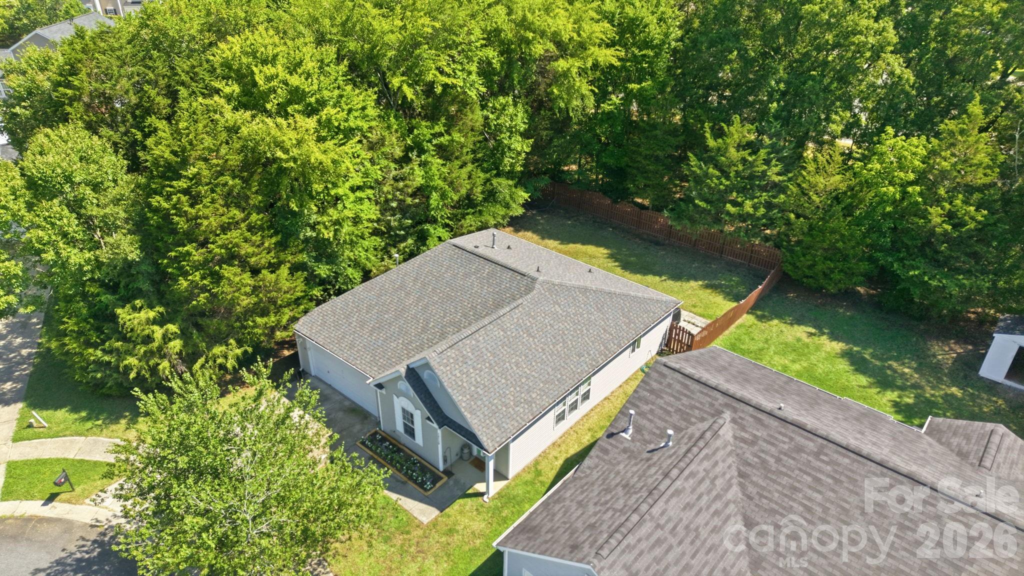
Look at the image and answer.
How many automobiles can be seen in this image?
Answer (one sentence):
Not a single automobile can be seen.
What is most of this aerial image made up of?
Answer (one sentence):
Most of the picture is covered by trees.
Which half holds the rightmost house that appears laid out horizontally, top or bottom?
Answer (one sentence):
The rightmost house that appears laid out horizontally sits in the bottom half of the picture.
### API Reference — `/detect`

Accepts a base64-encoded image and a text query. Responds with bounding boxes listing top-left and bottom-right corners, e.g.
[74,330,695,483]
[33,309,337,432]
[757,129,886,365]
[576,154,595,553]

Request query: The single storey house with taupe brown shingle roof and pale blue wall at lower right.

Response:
[490,347,1024,576]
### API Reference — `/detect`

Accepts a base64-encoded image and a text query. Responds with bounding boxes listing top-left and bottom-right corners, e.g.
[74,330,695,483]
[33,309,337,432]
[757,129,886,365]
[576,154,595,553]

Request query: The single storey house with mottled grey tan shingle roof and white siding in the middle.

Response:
[291,228,685,503]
